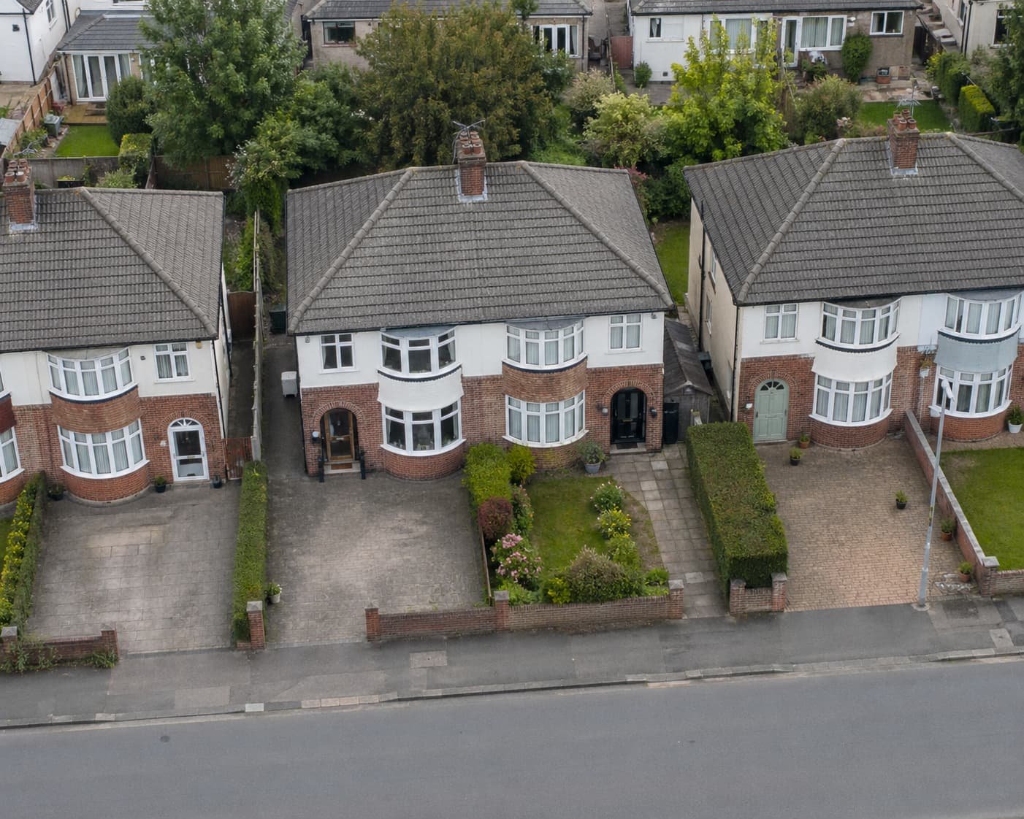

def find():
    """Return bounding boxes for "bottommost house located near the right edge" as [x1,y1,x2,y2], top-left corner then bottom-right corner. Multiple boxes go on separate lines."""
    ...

[685,105,1024,450]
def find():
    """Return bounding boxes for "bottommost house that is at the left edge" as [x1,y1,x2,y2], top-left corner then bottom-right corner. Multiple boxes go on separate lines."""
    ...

[0,158,229,504]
